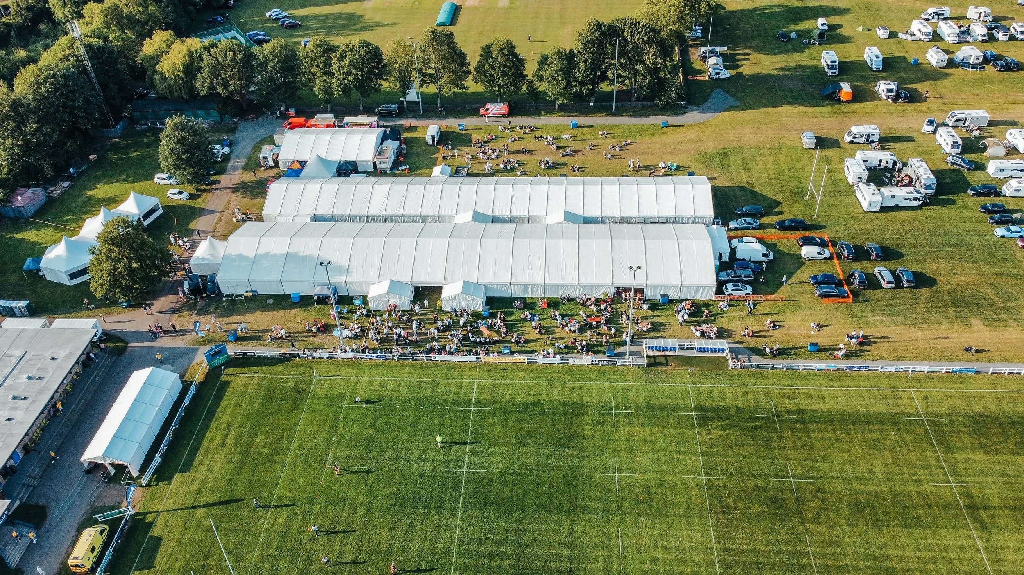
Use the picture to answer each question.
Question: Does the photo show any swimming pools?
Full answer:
No, I can't see a single swimming pool in this photo.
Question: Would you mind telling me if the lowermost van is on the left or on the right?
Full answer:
The lowermost van appears in the left half of the scene.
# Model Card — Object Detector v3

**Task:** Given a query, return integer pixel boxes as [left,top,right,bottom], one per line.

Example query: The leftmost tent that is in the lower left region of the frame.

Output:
[80,365,189,477]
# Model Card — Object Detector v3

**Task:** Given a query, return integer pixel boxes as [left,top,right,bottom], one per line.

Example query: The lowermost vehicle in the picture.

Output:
[64,527,110,575]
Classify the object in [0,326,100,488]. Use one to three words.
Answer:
building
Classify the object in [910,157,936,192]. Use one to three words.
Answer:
camper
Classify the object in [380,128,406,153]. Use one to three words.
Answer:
gazebo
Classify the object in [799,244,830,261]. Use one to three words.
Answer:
vehicle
